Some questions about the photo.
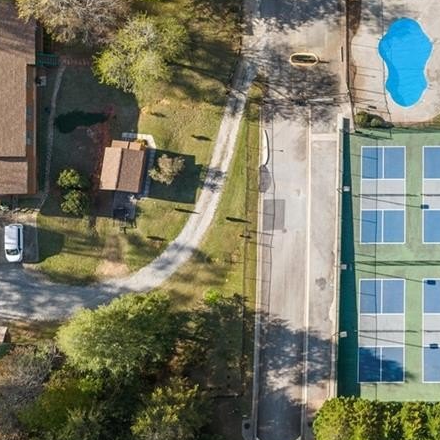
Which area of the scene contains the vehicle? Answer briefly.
left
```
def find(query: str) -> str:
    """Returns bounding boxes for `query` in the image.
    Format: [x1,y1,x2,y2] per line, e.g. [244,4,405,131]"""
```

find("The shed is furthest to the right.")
[102,139,152,192]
